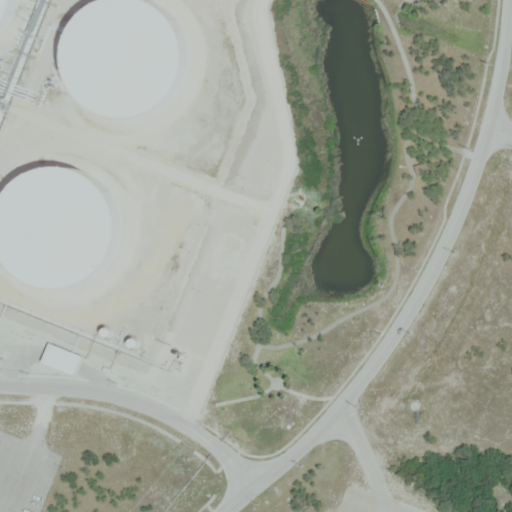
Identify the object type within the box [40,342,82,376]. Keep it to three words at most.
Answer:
shed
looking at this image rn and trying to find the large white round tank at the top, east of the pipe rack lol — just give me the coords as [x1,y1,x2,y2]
[57,0,188,122]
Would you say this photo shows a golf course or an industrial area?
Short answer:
industrial area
